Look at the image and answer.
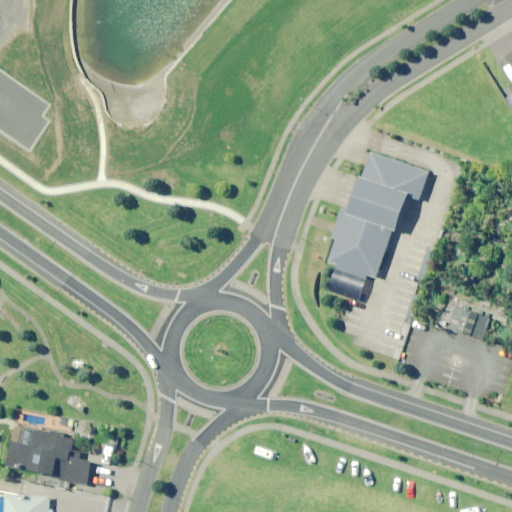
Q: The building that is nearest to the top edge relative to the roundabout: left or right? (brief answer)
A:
to its right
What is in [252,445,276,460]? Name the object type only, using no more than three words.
camper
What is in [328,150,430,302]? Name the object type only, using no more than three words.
building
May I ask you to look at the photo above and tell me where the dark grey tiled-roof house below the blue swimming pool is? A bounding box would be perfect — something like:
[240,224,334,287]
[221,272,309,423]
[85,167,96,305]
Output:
[5,429,90,486]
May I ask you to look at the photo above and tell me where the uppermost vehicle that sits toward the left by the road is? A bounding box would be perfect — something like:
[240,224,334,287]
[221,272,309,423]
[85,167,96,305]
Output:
[146,353,159,370]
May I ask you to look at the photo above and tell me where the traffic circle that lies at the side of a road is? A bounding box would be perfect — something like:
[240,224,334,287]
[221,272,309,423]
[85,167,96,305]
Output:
[144,242,302,442]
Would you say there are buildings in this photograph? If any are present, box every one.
[4,496,49,512]
[464,312,478,336]
[5,429,90,486]
[328,150,430,302]
[474,314,490,340]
